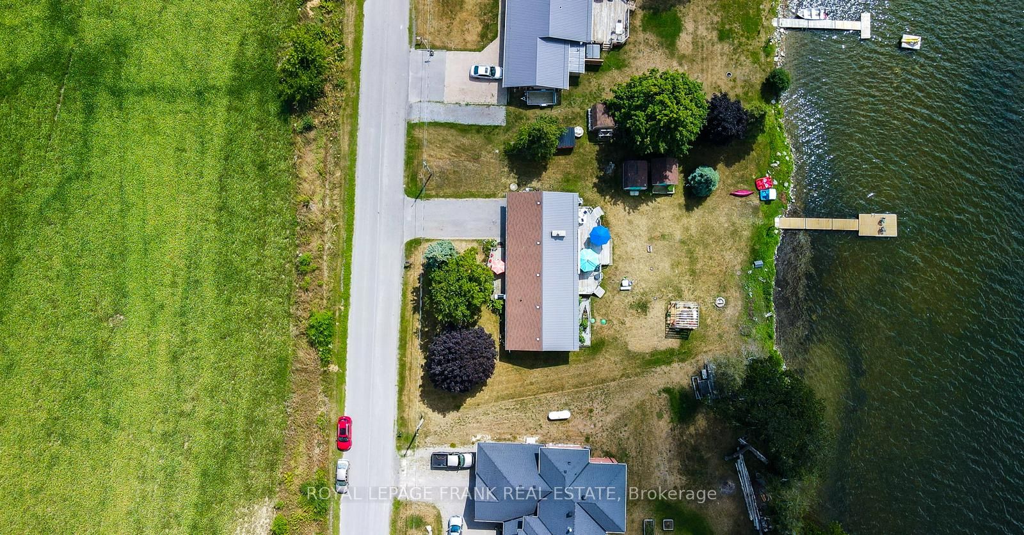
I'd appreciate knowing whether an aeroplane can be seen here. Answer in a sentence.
No, no aeroplane is visible in the scene.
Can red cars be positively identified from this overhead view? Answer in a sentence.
Yes, I can see a red car in this picture.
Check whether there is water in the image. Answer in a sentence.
Yes, there's water in this view.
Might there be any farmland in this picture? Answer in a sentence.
Yes, the picture does contain farmland.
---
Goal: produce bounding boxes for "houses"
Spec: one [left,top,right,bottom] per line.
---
[502,0,592,89]
[474,436,627,535]
[495,191,581,352]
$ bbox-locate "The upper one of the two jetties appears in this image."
[772,12,871,39]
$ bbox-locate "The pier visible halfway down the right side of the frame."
[775,213,898,236]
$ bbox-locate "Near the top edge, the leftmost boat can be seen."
[797,6,829,18]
